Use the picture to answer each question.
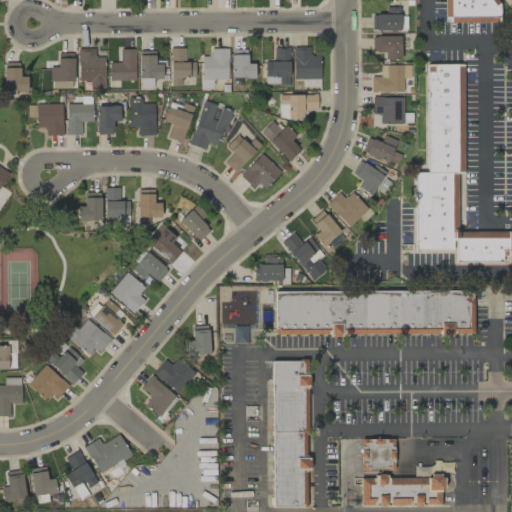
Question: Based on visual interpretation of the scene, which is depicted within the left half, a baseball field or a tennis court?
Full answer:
The feature located within the left half is a tennis court.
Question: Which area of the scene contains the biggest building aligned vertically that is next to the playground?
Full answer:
The biggest building aligned vertically that is next to the playground sits in the bottom section of the image.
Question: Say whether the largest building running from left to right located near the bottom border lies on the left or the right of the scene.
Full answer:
The largest building running from left to right located near the bottom border appears in the right half of the scene.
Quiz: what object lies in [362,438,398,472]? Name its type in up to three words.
building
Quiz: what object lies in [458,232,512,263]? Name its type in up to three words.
building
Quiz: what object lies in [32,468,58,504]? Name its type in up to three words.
house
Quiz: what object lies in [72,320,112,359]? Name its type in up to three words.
house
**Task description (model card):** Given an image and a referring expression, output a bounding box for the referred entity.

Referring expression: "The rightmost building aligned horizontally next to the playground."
[278,290,478,338]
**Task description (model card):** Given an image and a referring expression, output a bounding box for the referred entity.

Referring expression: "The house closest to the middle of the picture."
[256,254,292,285]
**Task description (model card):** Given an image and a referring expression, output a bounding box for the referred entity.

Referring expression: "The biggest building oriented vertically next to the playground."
[274,360,314,507]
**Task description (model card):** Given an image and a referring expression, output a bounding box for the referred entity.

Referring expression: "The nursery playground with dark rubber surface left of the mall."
[222,291,274,336]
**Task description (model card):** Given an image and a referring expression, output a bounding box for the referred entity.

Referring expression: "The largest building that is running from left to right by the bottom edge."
[364,475,446,507]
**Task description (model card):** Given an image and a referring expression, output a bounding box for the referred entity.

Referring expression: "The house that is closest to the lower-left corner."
[4,471,27,503]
